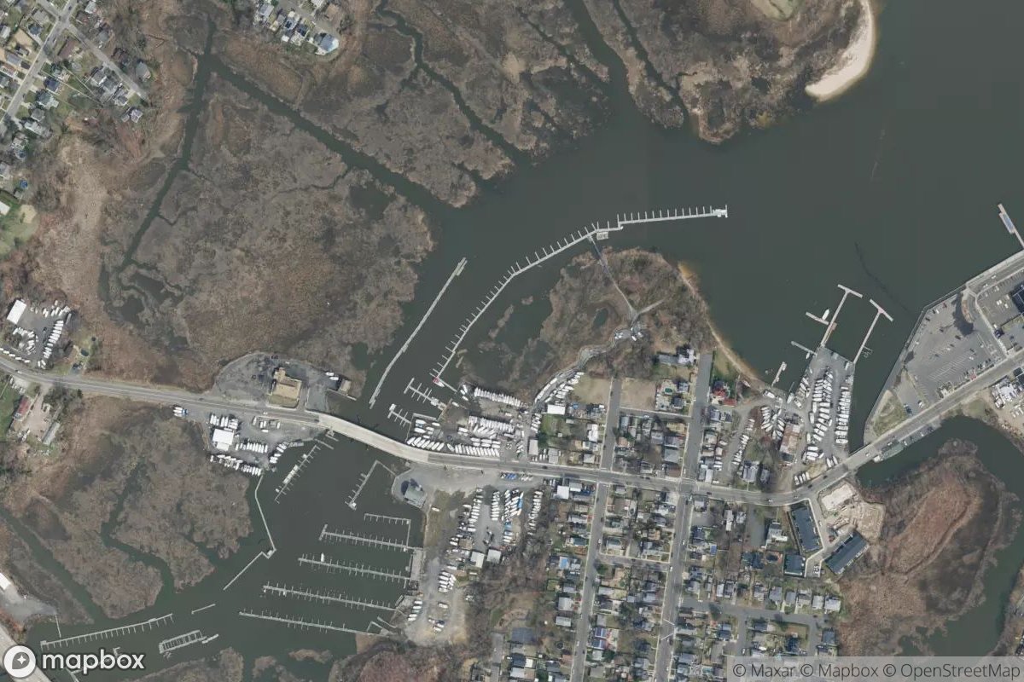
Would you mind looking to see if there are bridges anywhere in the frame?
Yes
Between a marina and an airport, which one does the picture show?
marina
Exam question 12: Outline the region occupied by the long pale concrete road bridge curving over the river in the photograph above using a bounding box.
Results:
[318,411,431,464]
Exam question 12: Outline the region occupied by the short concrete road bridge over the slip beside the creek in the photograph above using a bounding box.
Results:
[838,440,881,476]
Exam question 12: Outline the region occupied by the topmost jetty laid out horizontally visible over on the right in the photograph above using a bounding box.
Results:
[617,204,727,227]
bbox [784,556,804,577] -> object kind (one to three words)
building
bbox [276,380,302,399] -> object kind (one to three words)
building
